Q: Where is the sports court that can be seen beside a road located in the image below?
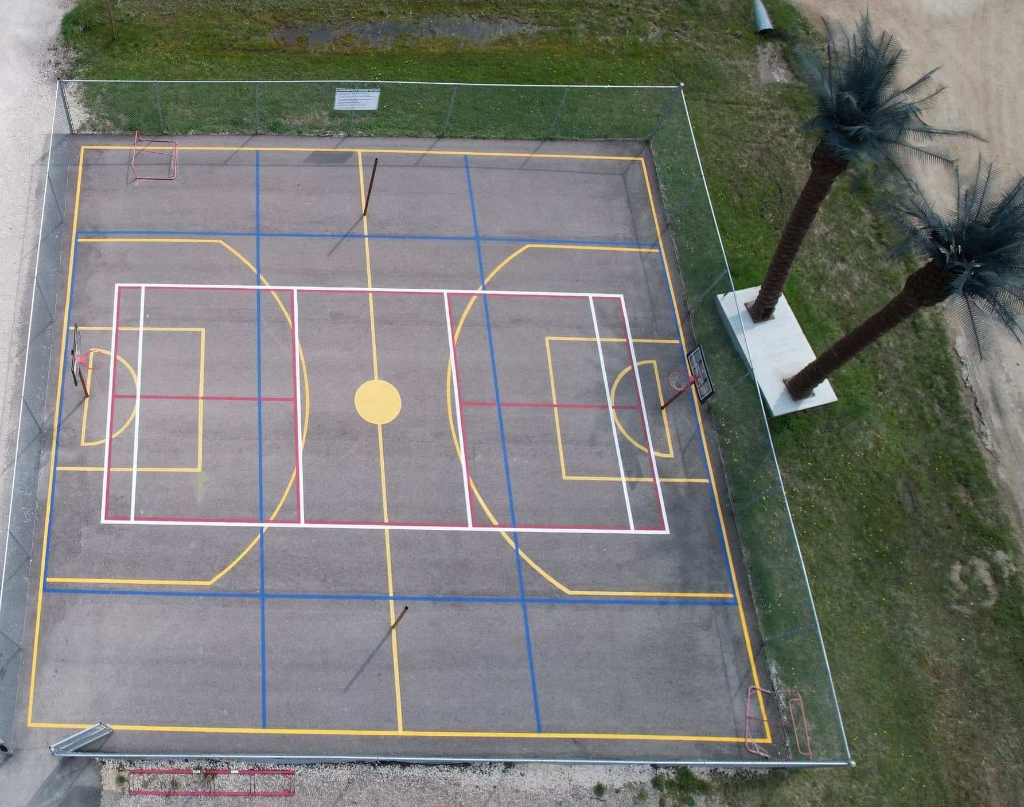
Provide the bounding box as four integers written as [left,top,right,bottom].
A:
[0,135,791,768]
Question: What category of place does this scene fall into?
sports ground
